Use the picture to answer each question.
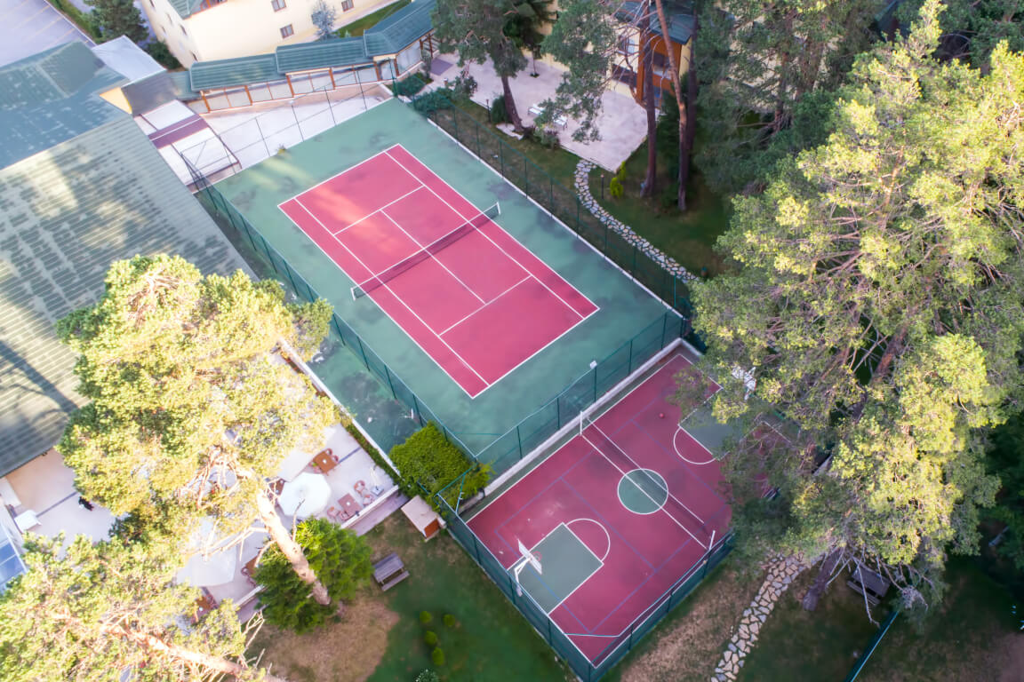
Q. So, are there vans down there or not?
No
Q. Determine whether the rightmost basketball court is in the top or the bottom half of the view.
bottom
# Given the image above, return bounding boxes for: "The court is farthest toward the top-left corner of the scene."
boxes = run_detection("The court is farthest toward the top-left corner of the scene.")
[197,99,694,500]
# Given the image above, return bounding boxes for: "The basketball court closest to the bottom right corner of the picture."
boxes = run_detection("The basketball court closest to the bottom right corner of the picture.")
[448,340,819,682]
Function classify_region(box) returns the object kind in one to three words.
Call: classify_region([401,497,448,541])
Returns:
shed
